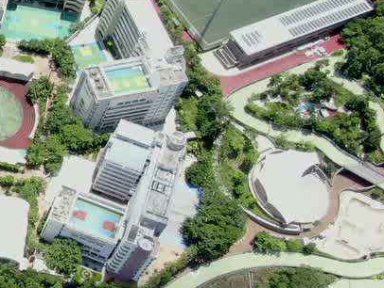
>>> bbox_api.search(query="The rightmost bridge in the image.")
[345,157,384,186]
